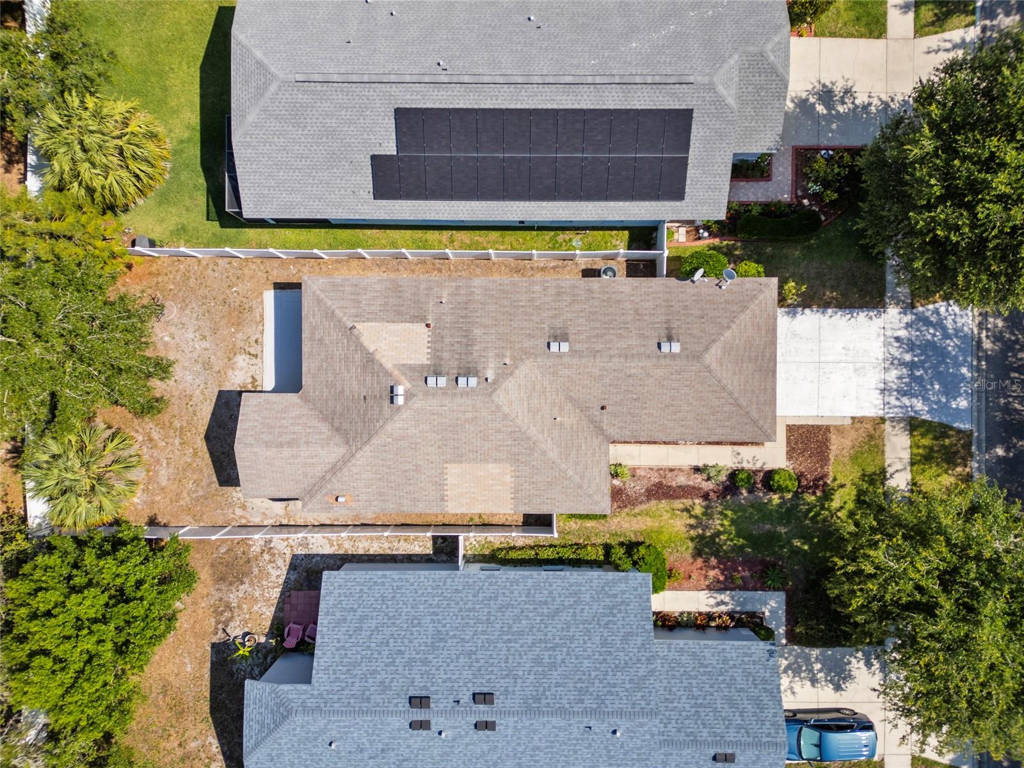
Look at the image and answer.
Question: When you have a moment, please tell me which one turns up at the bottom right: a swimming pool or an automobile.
automobile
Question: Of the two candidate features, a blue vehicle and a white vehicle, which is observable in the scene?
blue vehicle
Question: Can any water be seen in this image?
No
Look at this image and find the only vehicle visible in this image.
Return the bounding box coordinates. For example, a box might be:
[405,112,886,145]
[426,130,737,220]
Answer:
[785,708,877,766]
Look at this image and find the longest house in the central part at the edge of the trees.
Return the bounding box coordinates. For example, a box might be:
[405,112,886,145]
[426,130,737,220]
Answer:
[232,275,779,515]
